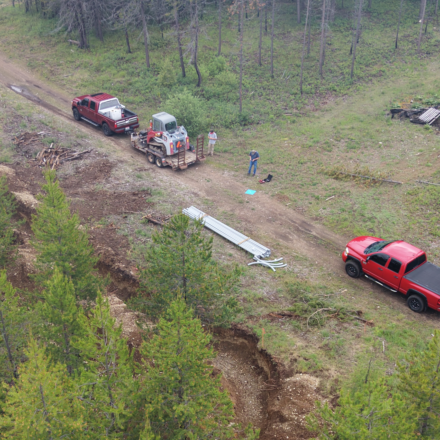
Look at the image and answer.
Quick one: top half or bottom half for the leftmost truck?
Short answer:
top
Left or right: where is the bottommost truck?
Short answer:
right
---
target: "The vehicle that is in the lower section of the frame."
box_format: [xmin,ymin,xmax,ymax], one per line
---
[340,235,440,315]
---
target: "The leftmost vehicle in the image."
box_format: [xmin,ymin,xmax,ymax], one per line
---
[67,91,143,138]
